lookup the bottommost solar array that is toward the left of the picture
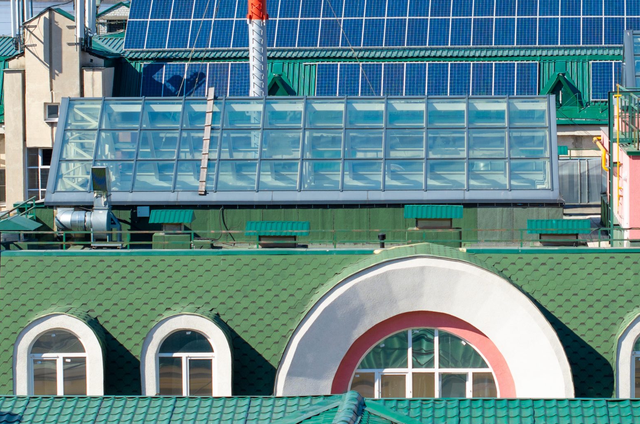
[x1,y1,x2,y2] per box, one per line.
[139,64,248,98]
